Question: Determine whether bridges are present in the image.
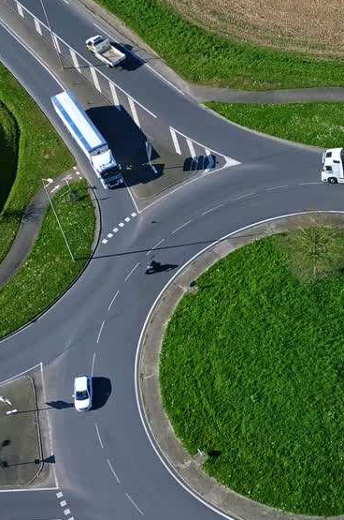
No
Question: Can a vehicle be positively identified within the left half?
Yes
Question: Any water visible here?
No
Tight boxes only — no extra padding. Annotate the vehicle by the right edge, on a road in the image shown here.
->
[321,148,344,184]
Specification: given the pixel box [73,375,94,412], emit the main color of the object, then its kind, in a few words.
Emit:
white car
